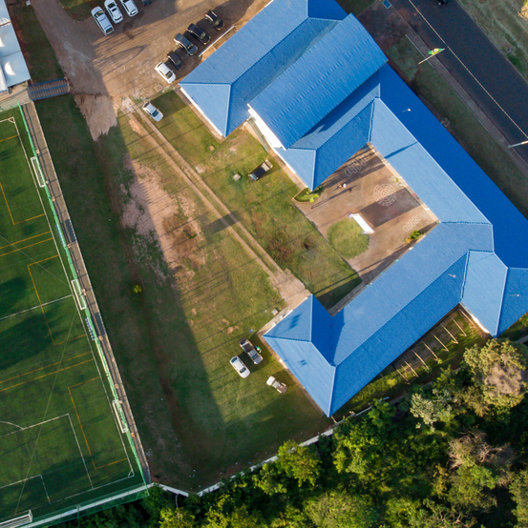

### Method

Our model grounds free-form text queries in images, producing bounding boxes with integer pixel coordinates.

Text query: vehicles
[141,98,164,124]
[141,0,154,9]
[246,155,276,183]
[263,374,289,396]
[164,45,185,68]
[173,32,196,58]
[227,352,252,380]
[237,334,263,366]
[120,0,139,18]
[153,60,177,85]
[93,7,113,35]
[104,0,123,25]
[187,22,210,47]
[204,9,224,32]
